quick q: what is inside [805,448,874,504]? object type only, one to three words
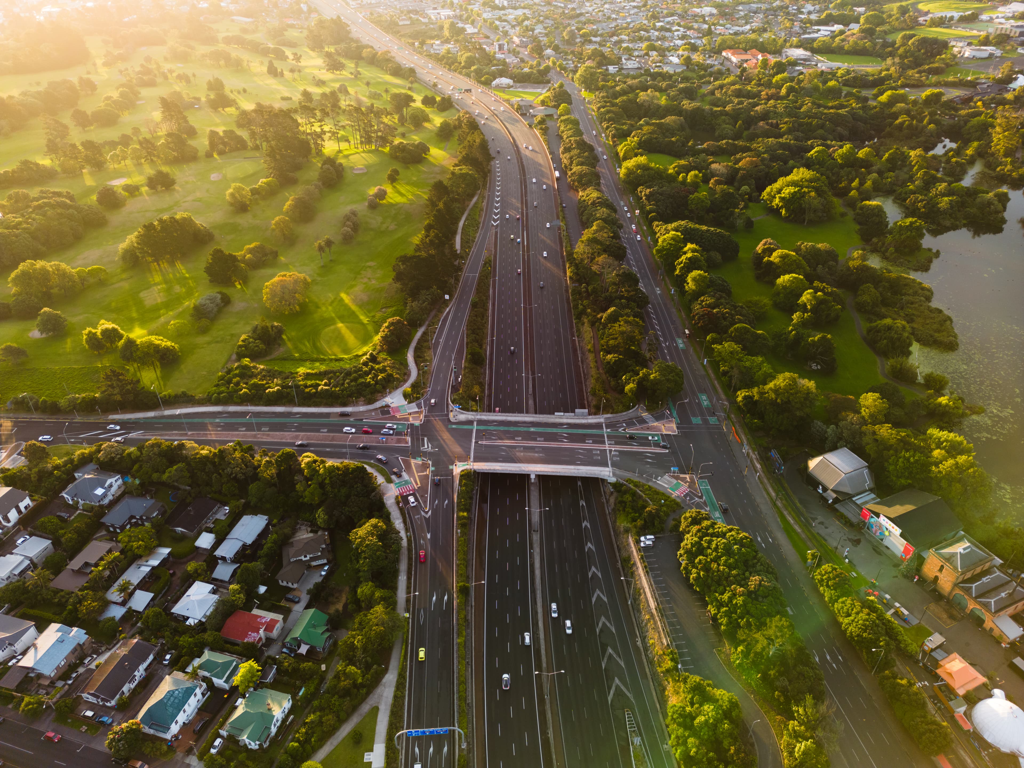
building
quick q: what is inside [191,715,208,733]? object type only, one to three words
car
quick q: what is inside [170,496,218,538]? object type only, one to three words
house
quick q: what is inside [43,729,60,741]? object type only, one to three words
vehicle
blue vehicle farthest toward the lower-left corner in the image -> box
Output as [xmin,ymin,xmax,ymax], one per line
[94,713,113,725]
